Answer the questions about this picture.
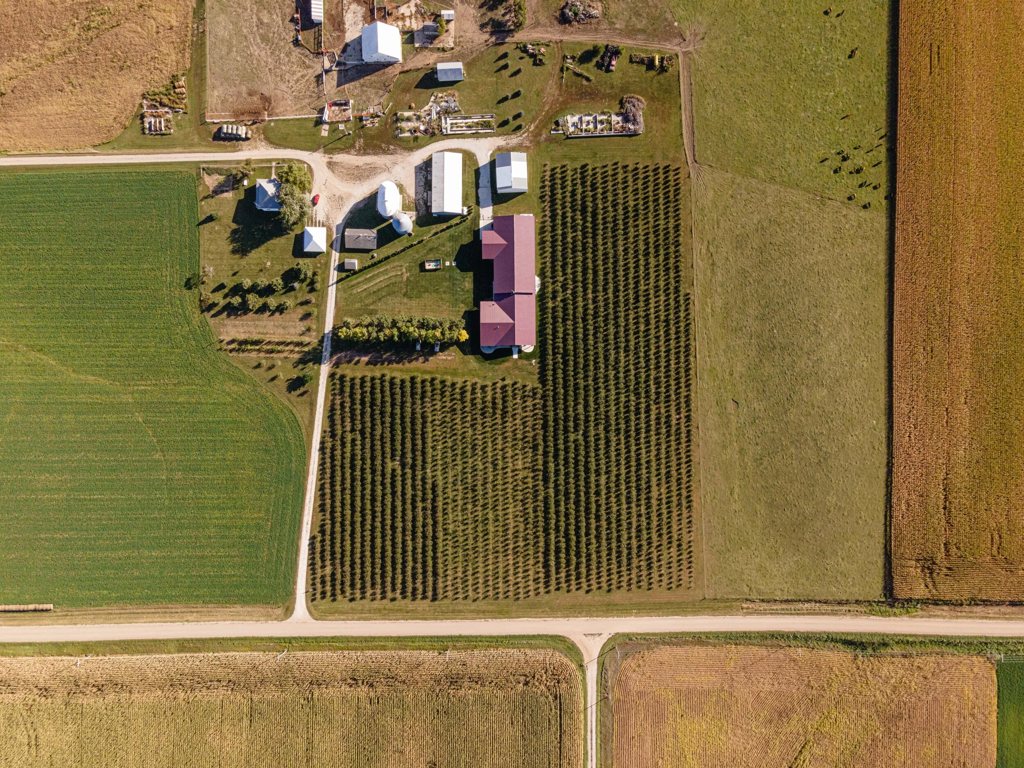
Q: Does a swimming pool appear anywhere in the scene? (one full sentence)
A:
No, no swimming pool is visible in the view.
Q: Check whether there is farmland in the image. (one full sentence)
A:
Yes, the picture does contain farmland.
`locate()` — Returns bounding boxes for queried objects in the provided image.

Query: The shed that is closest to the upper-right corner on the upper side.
[496,150,528,193]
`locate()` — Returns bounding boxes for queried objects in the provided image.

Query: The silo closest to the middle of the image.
[392,212,414,235]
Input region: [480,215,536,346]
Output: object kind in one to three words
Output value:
house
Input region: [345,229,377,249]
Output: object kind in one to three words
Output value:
shed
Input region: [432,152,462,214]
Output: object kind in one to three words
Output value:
shed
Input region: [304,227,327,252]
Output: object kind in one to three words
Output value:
building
